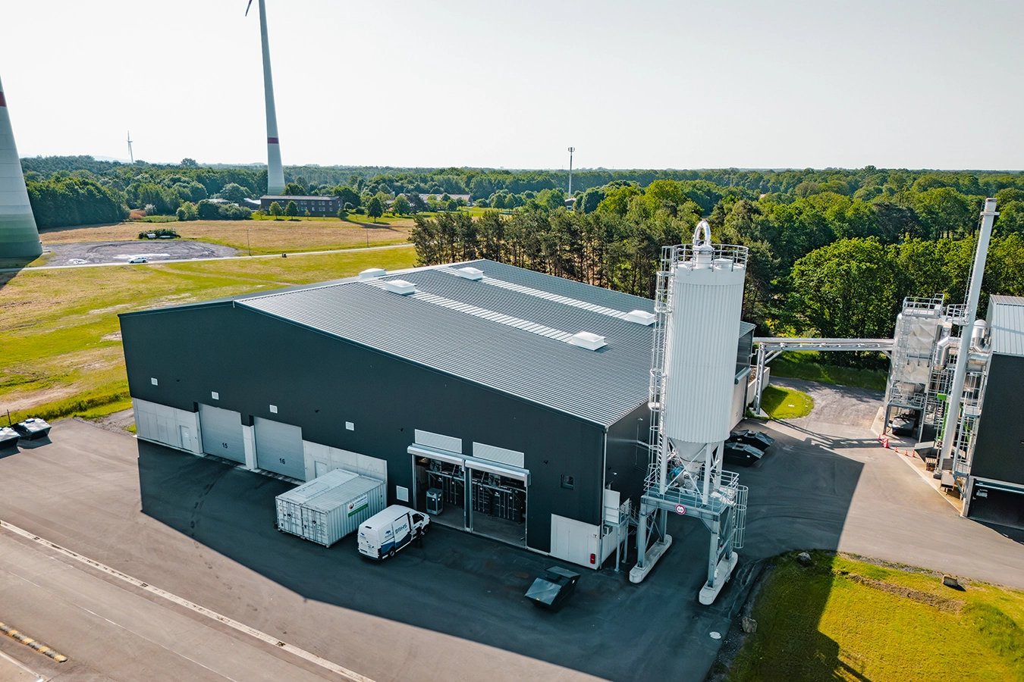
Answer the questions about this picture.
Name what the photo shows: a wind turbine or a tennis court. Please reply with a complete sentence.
The image shows a wind turbine.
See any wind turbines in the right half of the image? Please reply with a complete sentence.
No, I can find no wind turbine in the right half of the image.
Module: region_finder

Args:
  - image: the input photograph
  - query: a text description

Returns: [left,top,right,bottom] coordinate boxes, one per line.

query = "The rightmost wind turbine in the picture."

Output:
[249,0,286,193]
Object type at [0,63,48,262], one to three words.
wind turbine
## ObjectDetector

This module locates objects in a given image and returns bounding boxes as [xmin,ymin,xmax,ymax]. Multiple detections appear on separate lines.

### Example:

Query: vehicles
[357,503,433,563]
[127,257,147,263]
